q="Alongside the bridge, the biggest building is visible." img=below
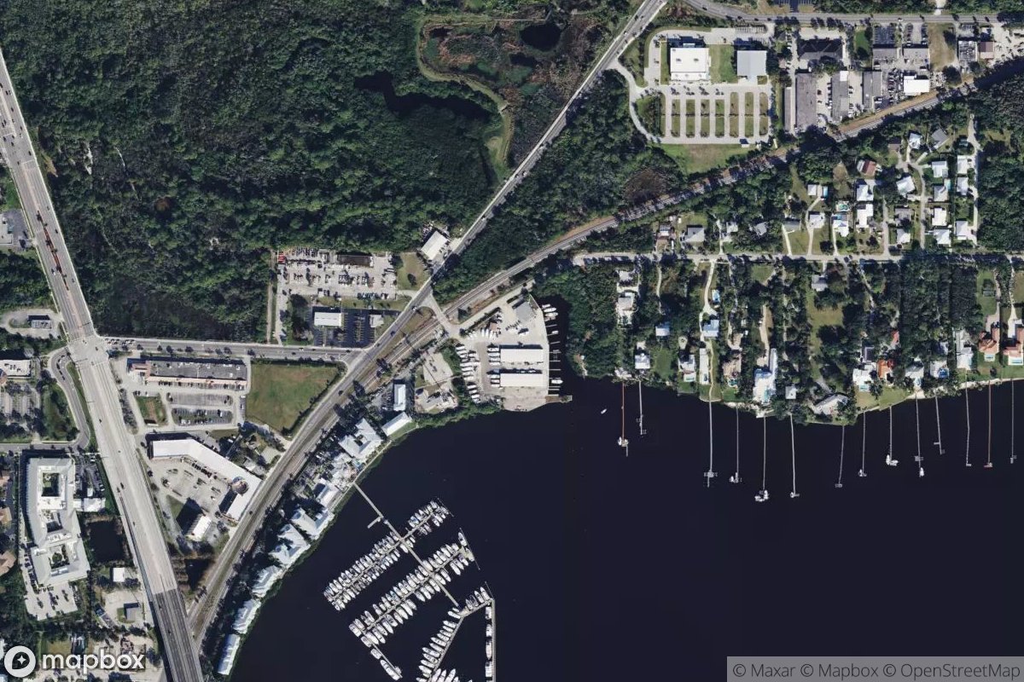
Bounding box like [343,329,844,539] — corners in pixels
[28,457,89,585]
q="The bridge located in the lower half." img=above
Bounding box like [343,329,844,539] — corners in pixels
[104,460,202,682]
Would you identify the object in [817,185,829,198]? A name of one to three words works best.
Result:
swimming pool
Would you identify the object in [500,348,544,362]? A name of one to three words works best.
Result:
shed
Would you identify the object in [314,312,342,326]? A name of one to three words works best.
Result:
building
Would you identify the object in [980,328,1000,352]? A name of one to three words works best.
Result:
house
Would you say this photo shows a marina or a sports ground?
marina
